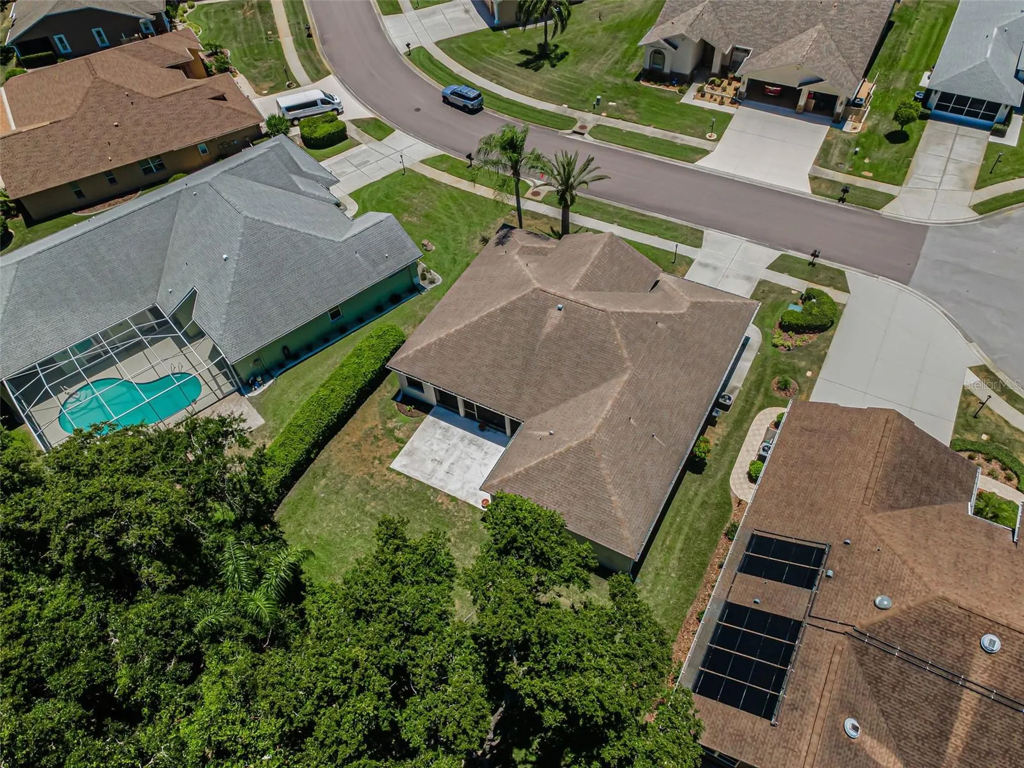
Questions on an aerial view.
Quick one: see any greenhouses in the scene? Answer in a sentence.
No, the frame has no greenhouse in it.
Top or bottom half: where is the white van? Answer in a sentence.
The white van sits in the top half of the picture.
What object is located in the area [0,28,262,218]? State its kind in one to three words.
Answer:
house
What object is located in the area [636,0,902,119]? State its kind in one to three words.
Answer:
house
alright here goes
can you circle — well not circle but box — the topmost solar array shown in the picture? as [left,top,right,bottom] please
[737,533,829,590]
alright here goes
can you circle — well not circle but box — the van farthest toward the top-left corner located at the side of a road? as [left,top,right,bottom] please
[274,86,345,125]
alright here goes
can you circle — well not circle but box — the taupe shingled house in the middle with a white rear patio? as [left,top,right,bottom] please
[385,223,762,567]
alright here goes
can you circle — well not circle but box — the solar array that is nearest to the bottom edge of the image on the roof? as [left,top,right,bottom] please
[691,601,806,720]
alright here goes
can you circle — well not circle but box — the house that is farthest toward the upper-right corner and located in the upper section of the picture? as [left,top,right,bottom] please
[924,0,1024,125]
